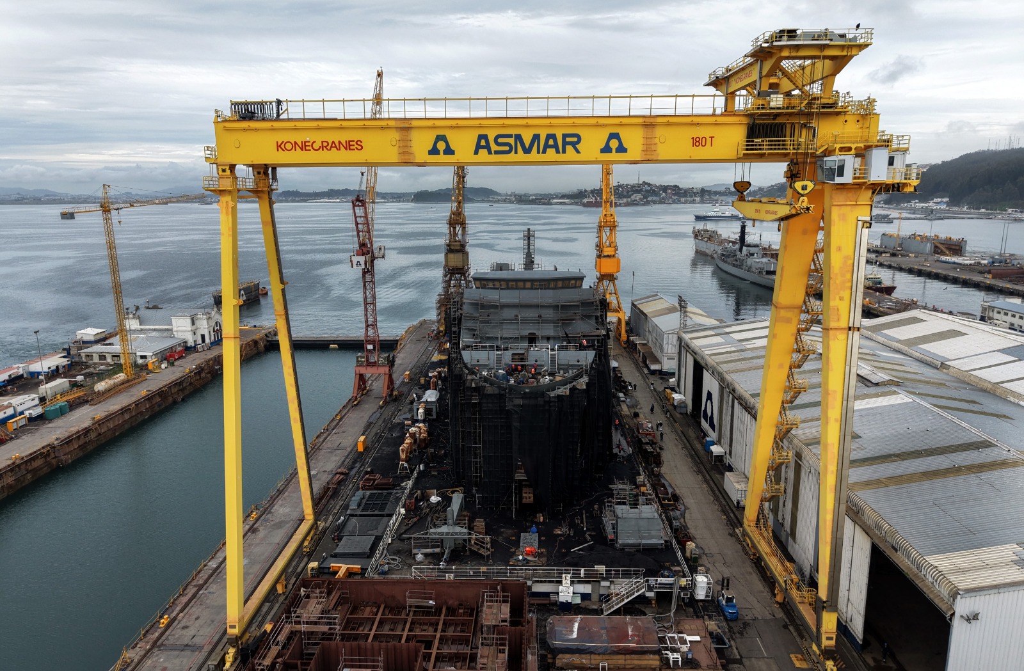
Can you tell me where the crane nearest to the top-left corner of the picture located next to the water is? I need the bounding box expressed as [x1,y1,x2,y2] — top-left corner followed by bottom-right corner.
[65,185,206,379]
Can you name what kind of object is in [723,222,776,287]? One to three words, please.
ship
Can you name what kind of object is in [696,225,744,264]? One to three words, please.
ship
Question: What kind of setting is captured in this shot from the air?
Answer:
port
